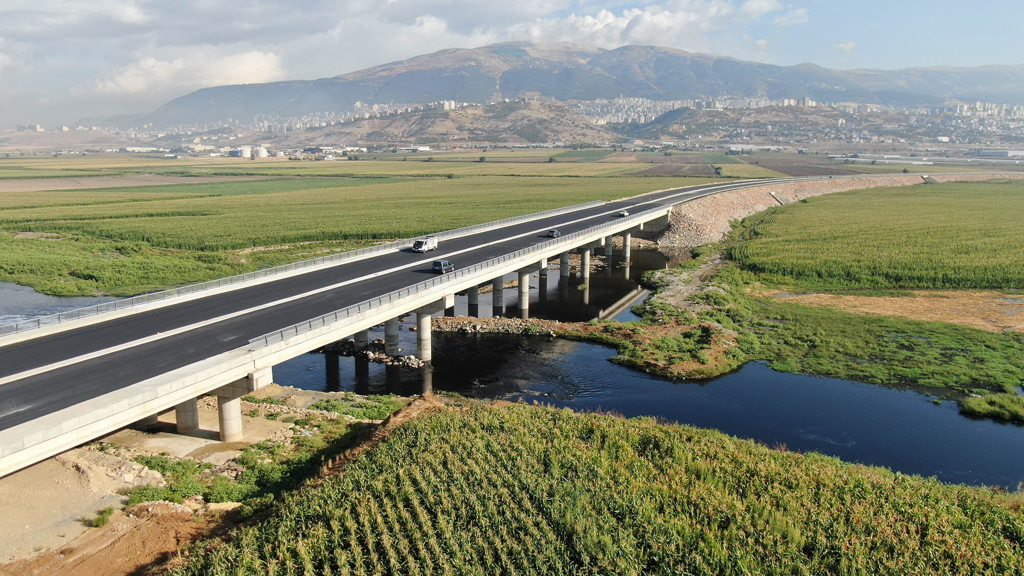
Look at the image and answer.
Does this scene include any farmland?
Yes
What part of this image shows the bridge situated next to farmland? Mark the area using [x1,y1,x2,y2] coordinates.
[0,200,675,476]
